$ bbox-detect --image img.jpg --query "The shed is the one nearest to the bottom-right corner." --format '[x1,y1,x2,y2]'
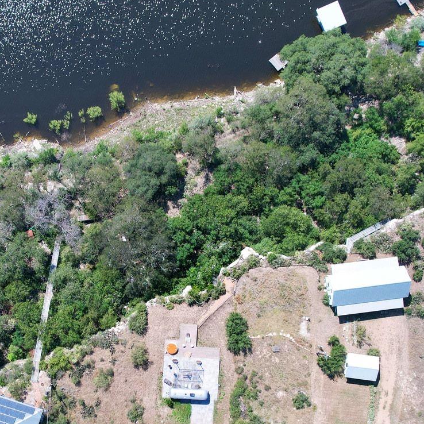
[344,353,379,380]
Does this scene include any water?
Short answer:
Yes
